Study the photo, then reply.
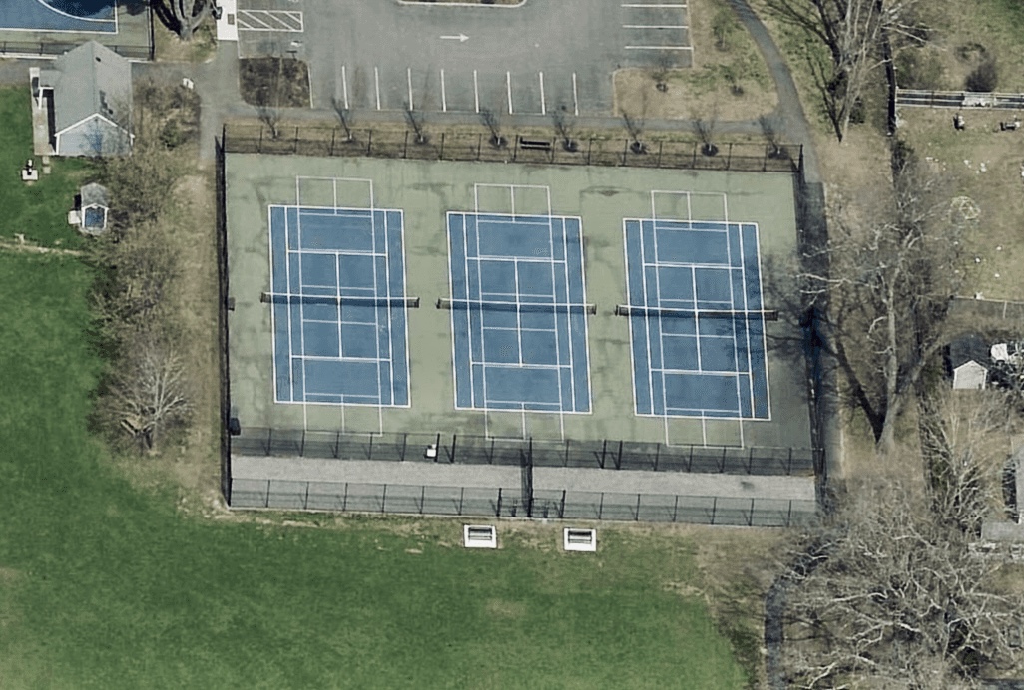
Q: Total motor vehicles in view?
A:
0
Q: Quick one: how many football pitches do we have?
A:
0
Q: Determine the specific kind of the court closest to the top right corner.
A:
tennis court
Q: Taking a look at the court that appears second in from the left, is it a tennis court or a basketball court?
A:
tennis court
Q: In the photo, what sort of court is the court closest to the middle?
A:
tennis court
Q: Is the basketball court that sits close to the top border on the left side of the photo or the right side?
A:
left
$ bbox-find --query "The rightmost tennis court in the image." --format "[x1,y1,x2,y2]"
[624,190,771,450]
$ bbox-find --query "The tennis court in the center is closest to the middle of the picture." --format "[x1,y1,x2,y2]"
[447,184,592,443]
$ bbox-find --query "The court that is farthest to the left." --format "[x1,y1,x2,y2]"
[0,0,152,60]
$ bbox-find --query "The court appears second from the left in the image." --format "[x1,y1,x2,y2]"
[269,177,411,437]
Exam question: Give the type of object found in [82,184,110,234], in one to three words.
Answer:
shed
